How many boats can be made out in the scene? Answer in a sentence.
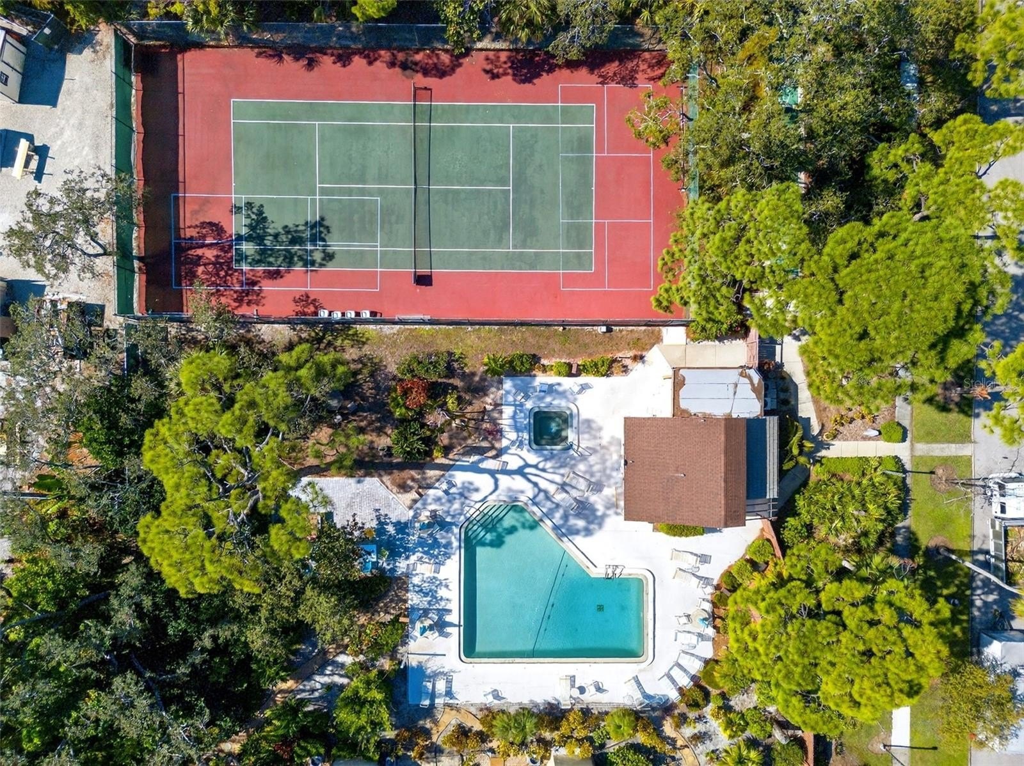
The count of boats is 0.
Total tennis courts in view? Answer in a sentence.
I count just 1 tennis court.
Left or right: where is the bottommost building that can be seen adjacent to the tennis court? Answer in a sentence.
You can find the bottommost building that can be seen adjacent to the tennis court on the right side of the picture.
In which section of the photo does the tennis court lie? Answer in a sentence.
You can find the tennis court in the top area of the picture.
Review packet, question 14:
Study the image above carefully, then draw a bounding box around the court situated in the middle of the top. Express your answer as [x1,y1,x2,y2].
[133,45,691,320]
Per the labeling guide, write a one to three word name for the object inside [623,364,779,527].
building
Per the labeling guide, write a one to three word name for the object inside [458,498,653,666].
swimming pool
